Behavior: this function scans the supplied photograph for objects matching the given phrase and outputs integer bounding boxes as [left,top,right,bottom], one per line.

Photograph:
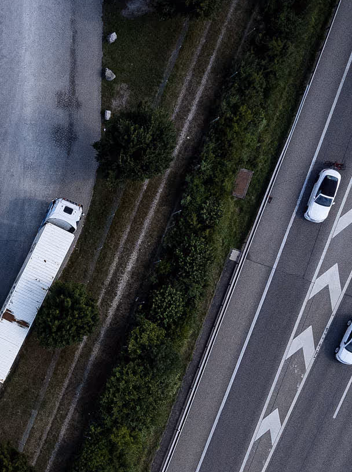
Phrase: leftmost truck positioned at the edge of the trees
[0,197,85,383]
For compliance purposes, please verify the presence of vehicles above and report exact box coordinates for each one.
[301,165,344,226]
[0,197,85,383]
[334,317,352,369]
